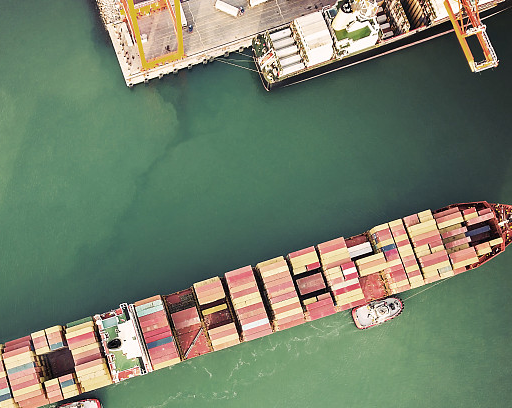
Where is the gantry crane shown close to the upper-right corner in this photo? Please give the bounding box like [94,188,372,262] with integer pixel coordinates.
[442,0,501,74]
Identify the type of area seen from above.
port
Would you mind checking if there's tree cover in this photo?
No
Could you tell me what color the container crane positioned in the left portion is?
yellow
